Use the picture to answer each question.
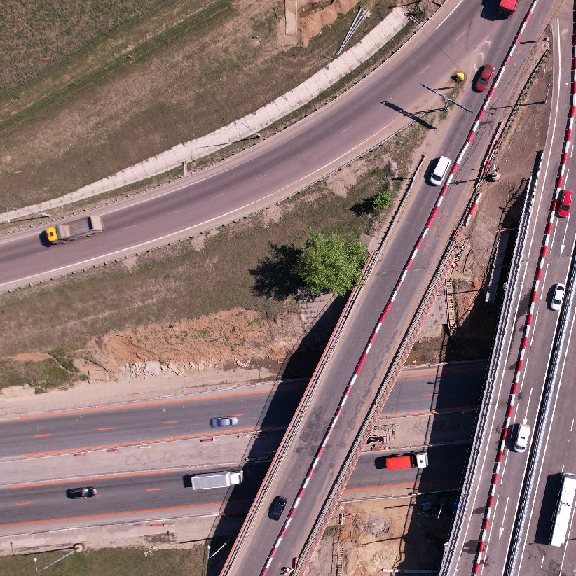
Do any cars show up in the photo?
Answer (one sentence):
Yes, the picture does show a car.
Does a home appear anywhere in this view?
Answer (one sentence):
No, no home can be seen from above.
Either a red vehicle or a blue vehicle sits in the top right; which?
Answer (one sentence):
It is a red vehicle that can be seen in the top right.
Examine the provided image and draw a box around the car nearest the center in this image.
[210,415,238,429]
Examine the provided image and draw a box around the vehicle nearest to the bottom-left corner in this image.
[68,485,95,498]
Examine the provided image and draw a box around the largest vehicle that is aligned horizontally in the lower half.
[189,469,247,490]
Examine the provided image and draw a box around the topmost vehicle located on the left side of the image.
[48,215,107,244]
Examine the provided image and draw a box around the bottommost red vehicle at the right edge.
[557,189,572,218]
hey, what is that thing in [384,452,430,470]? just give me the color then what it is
red vehicle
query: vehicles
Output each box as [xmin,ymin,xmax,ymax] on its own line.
[189,469,247,490]
[514,421,529,453]
[429,155,452,188]
[473,63,494,94]
[552,282,565,311]
[210,415,238,429]
[384,452,430,470]
[68,485,95,498]
[48,215,107,244]
[557,189,572,218]
[549,467,576,547]
[497,0,520,17]
[269,494,288,520]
